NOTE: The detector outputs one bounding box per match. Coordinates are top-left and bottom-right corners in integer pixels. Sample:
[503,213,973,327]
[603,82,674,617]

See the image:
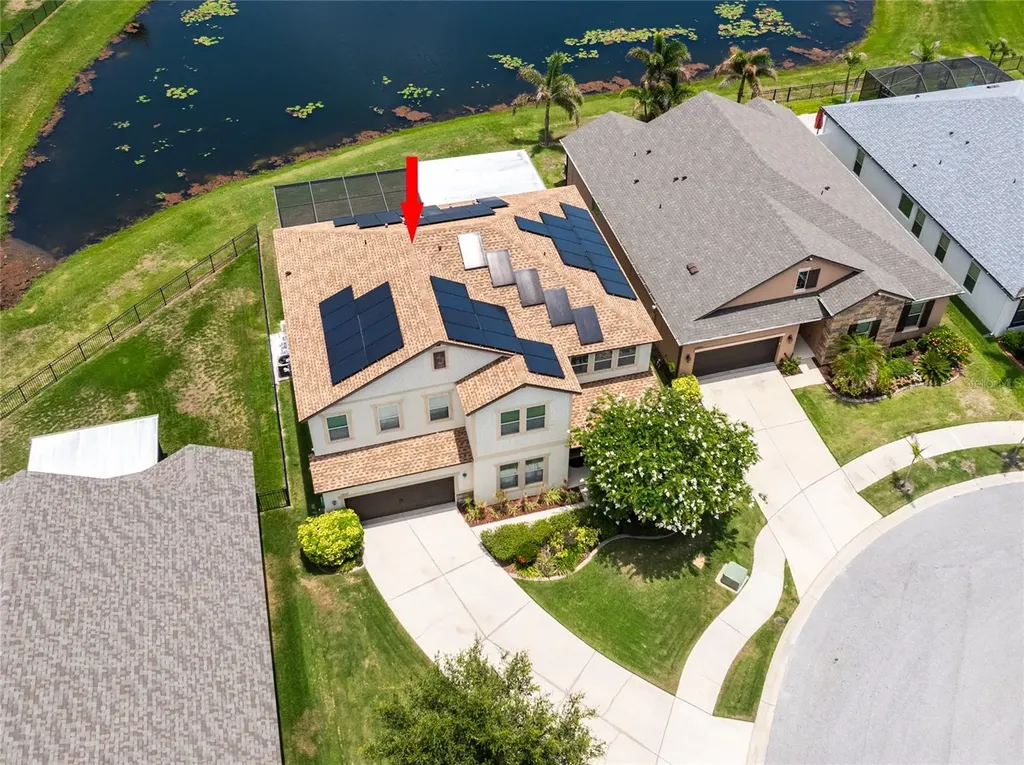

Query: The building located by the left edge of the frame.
[0,412,280,765]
